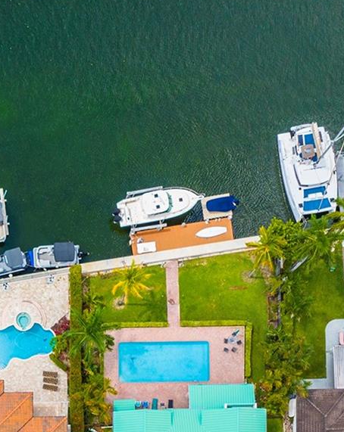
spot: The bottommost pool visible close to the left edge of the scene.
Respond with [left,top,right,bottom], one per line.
[0,325,57,372]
